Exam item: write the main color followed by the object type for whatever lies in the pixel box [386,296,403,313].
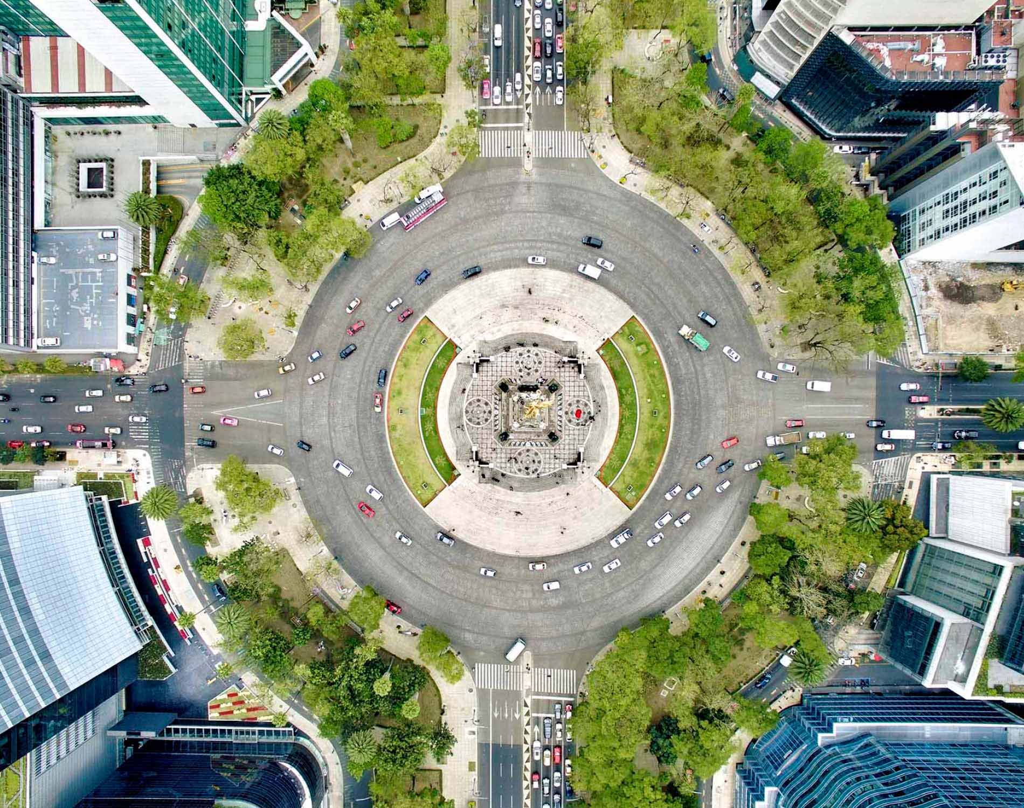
white car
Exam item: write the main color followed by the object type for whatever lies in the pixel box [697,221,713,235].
white car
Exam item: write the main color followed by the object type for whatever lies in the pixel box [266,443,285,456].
white vehicle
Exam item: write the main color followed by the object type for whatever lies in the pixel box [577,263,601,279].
white vehicle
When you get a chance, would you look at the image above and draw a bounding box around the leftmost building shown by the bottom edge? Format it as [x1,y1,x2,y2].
[0,486,154,808]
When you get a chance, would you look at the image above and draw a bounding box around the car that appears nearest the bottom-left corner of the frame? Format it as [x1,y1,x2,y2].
[209,581,224,600]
